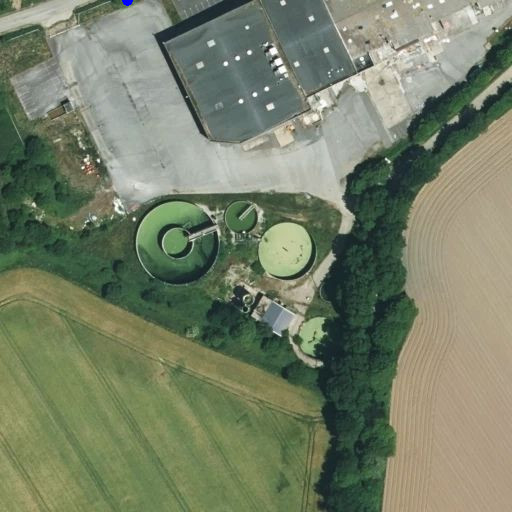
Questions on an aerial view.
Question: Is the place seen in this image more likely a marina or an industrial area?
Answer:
industrial area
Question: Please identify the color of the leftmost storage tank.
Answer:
green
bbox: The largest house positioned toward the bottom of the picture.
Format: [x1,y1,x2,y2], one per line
[260,300,297,338]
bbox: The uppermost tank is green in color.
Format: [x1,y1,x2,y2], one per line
[224,200,257,232]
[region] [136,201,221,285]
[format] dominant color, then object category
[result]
green storage tank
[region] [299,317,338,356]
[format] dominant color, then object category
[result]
green storage tank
